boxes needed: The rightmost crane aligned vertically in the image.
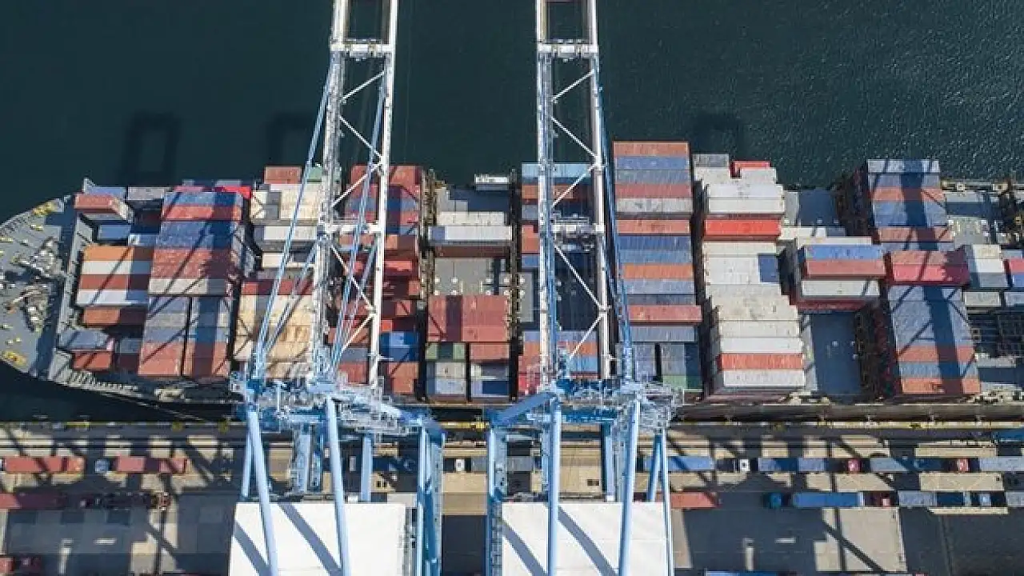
[472,0,685,576]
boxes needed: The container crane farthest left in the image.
[228,0,482,576]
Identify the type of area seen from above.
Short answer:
port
